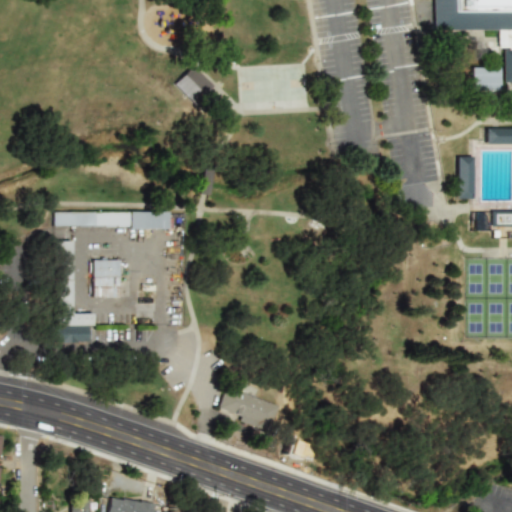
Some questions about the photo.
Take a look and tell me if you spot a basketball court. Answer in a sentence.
Yes, a basketball court is visible in the scene.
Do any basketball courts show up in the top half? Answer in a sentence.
Yes, a basketball court appears in the top half.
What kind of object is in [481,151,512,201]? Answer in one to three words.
swimming pool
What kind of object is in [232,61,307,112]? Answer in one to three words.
basketball court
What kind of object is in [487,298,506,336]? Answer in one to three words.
sports court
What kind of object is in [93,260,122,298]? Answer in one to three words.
building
